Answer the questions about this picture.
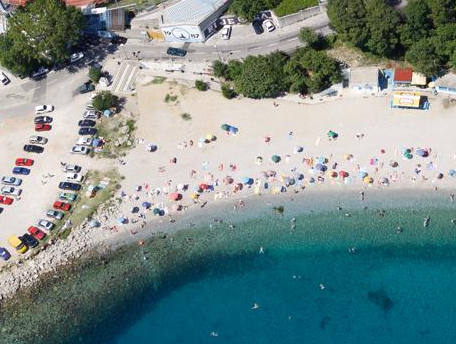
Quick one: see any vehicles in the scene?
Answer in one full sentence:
Yes, there is a vehicle in the image.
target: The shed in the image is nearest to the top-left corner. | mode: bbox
[84,15,105,40]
